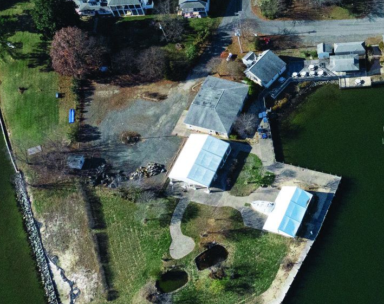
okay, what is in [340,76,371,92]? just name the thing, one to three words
pier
